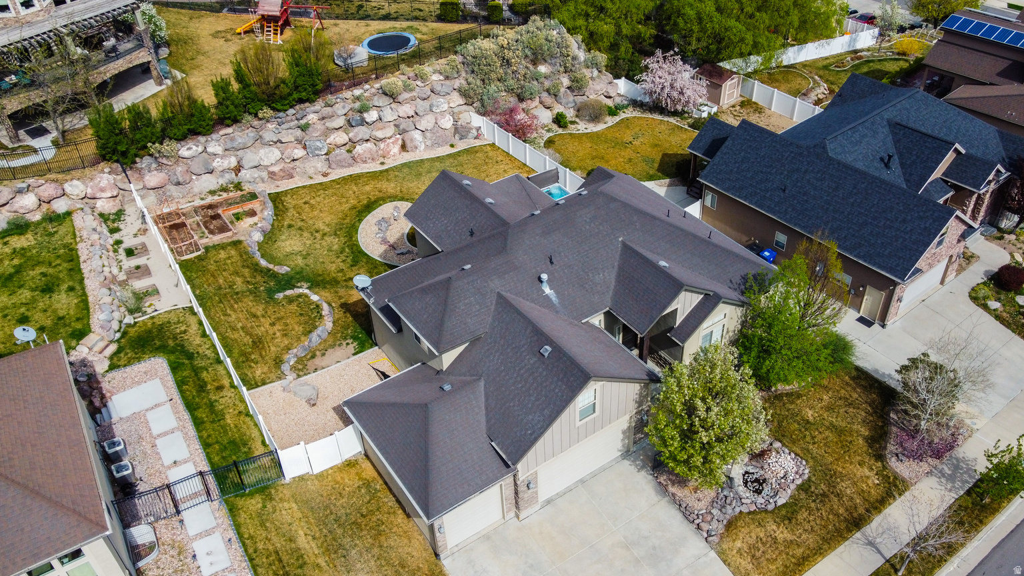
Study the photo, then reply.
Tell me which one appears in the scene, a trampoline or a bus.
trampoline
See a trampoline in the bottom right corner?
No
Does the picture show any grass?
Yes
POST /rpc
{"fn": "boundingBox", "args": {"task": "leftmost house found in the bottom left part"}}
[0,341,125,576]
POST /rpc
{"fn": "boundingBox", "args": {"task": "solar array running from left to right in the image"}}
[941,13,1024,45]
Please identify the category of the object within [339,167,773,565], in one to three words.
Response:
house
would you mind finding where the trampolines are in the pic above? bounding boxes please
[360,30,420,65]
